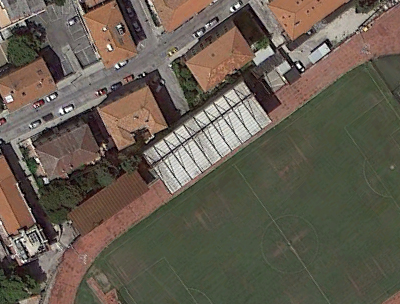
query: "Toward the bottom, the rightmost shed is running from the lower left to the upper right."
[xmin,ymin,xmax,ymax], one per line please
[68,170,149,235]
